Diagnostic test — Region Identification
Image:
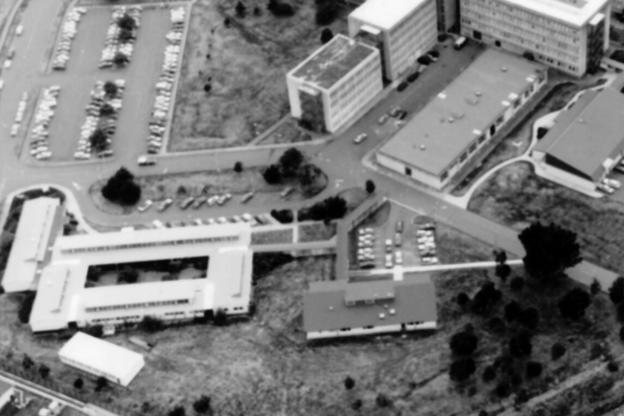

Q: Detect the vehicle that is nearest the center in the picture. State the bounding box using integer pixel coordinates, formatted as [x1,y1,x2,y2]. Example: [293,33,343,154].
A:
[278,186,293,198]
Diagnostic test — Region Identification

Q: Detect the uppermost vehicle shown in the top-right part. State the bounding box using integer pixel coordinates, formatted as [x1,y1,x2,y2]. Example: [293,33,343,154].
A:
[452,32,469,49]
